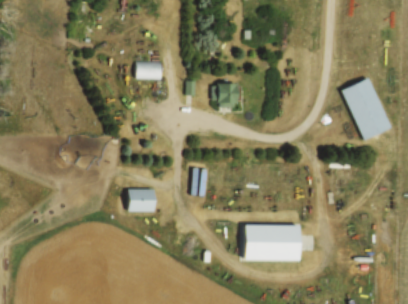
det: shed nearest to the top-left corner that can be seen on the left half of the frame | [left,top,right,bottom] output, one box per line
[133,61,163,80]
